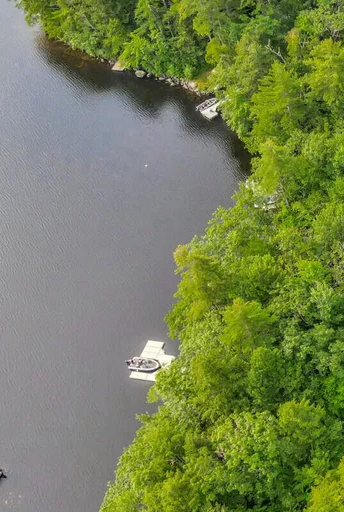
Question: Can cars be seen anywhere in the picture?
No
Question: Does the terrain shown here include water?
Yes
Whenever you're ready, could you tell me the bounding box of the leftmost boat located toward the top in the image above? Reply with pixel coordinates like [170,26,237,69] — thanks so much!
[193,99,216,113]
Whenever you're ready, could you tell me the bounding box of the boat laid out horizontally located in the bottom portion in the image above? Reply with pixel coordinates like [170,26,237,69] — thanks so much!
[126,357,162,372]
